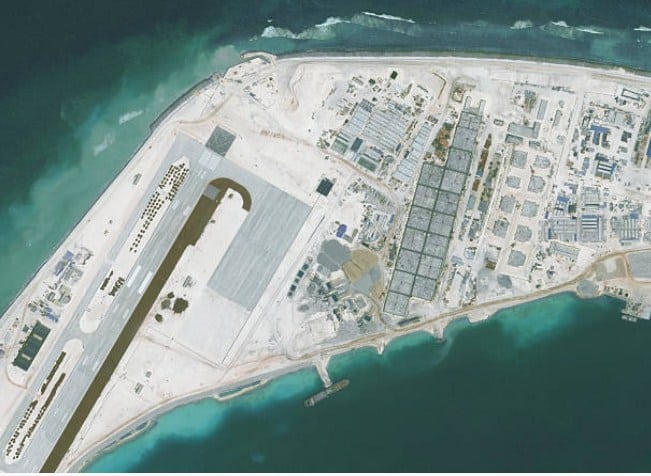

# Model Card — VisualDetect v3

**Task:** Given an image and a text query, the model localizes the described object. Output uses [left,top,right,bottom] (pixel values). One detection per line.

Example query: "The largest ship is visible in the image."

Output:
[303,381,349,407]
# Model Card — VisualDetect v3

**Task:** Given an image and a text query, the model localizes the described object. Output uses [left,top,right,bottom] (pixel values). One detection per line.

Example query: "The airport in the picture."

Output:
[0,133,313,476]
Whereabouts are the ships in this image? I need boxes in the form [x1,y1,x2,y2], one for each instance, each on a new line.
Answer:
[622,315,636,322]
[303,381,349,407]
